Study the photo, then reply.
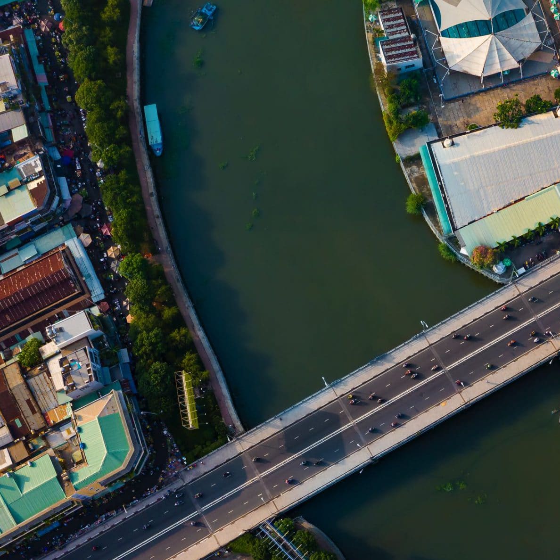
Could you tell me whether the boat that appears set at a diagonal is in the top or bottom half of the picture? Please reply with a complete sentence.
The boat that appears set at a diagonal is in the top half of the image.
